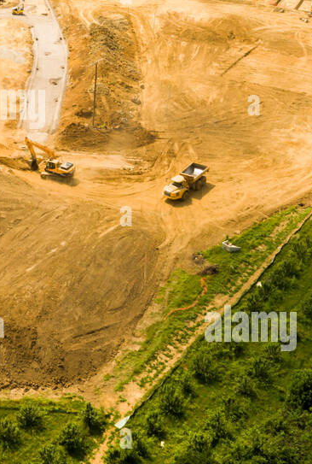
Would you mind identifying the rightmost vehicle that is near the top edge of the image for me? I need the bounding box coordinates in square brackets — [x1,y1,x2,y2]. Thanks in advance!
[12,0,27,14]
